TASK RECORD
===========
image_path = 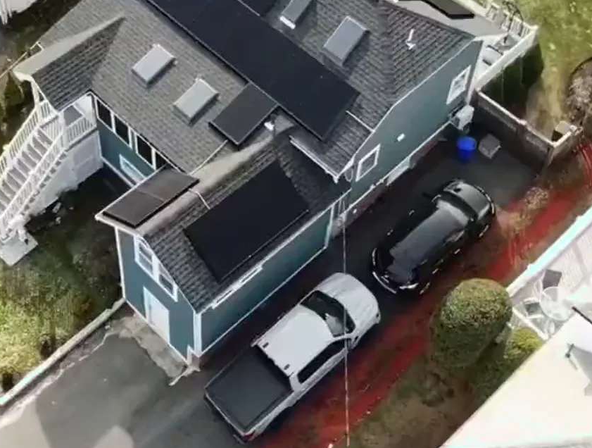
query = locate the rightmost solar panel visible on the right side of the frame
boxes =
[424,0,471,19]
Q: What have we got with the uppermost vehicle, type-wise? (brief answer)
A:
automobile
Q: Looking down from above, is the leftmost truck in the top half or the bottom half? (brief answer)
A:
bottom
